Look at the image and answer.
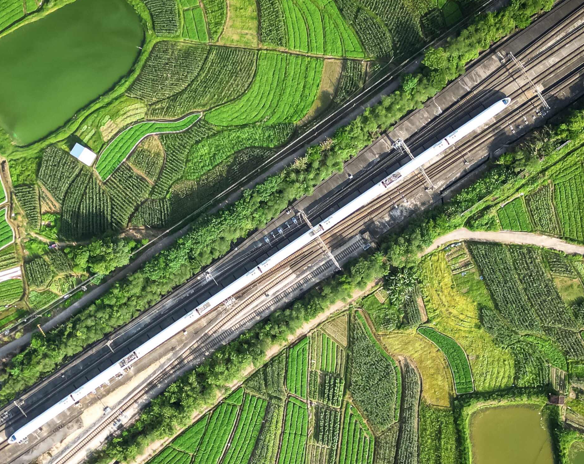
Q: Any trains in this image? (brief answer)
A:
Yes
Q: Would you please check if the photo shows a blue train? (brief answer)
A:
No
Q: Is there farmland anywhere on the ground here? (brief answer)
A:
Yes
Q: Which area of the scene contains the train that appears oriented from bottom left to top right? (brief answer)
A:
center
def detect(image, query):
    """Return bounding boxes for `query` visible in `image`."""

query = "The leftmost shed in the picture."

[70,143,96,166]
